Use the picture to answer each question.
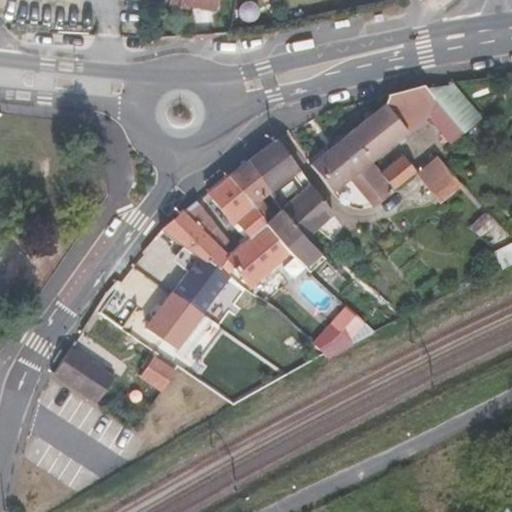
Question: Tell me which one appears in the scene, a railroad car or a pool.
pool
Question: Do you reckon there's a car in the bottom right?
No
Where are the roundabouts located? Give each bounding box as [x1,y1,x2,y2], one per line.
[138,68,224,154]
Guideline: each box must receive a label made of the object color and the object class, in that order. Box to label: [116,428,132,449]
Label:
white car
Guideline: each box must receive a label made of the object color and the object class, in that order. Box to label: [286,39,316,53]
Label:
white vehicle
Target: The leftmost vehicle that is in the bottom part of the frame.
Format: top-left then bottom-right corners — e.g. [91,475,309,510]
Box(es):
[53,386,70,408]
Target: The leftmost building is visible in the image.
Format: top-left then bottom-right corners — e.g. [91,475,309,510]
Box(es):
[54,344,115,402]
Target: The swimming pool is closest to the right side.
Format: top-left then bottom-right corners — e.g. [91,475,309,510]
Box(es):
[301,279,330,306]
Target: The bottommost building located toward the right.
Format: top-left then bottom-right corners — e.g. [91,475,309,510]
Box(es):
[314,306,372,360]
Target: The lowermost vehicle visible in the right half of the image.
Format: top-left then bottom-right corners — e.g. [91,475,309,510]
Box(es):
[381,193,402,212]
